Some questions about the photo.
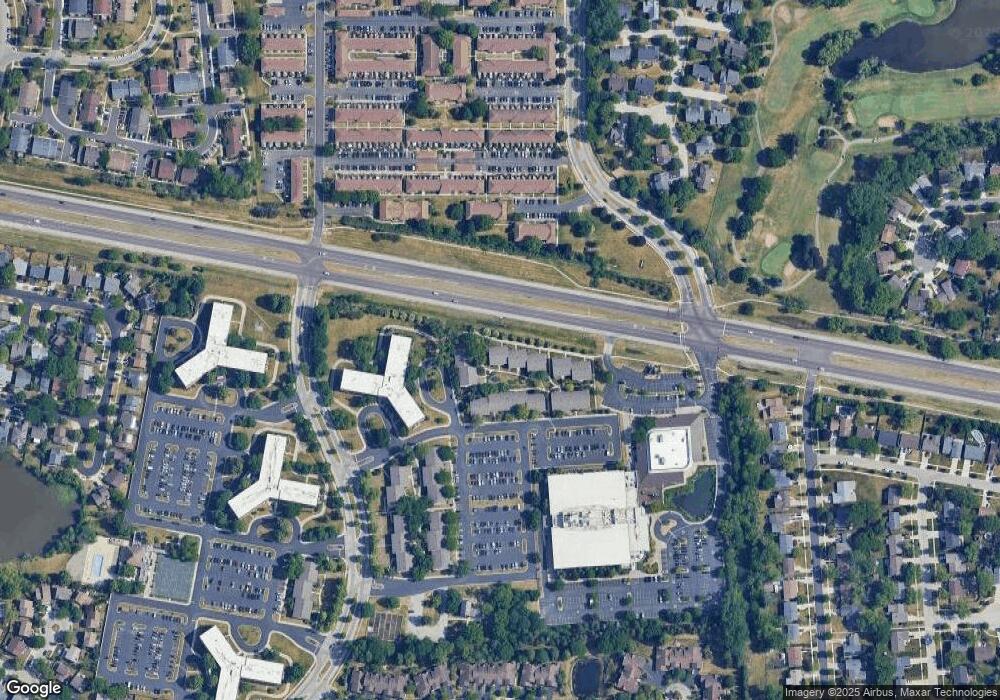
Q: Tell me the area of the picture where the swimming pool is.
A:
bottom left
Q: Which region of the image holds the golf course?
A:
top right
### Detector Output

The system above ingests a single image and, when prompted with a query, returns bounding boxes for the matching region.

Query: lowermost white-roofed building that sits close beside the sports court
[199,626,284,700]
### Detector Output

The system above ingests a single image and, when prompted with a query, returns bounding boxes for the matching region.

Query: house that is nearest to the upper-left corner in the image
[26,3,44,32]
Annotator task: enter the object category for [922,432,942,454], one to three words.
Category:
house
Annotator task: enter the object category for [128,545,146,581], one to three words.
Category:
building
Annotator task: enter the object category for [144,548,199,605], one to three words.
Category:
sports court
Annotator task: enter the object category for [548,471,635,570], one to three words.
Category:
building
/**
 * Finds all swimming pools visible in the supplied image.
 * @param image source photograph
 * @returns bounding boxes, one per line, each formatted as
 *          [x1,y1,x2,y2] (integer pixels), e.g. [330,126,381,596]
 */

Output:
[67,535,119,583]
